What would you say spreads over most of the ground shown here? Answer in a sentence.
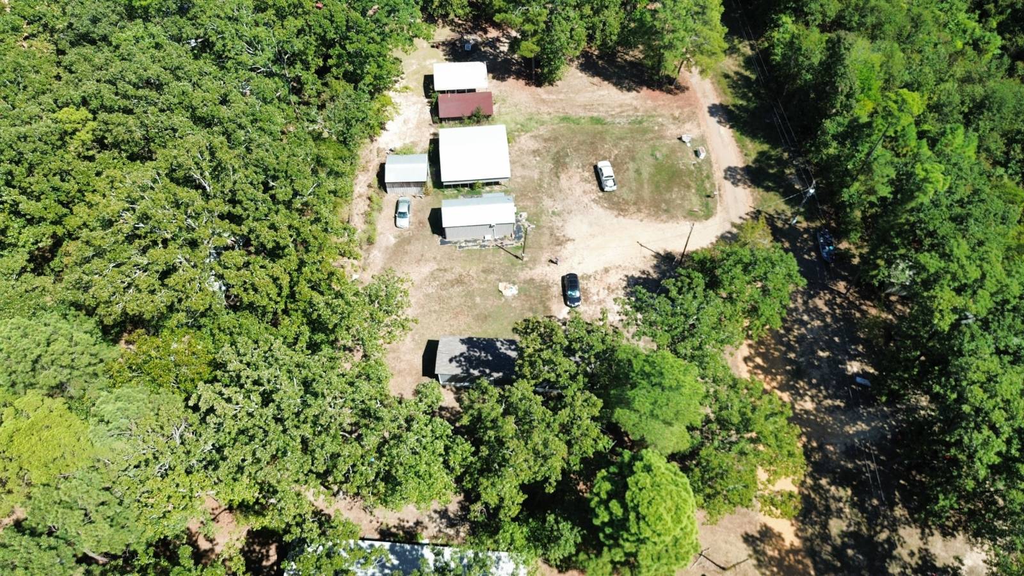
The bulk of the photo consists of trees.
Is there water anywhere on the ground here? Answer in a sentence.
No, there is no water in the image.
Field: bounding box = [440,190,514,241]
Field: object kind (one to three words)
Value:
building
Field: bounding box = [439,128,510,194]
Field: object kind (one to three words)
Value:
barn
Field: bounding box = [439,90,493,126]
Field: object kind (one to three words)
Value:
shed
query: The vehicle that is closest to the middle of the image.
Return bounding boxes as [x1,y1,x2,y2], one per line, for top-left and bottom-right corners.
[562,273,583,309]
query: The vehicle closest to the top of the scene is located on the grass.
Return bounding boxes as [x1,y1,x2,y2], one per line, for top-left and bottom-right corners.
[595,160,620,195]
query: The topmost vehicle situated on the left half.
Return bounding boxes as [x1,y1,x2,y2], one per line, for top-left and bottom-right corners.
[393,198,412,230]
